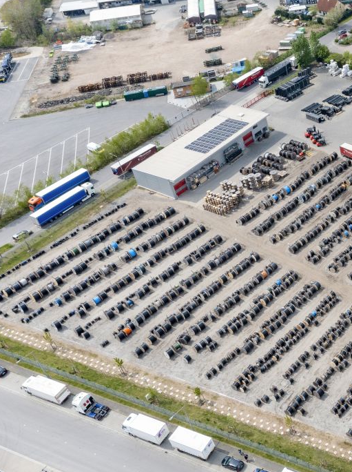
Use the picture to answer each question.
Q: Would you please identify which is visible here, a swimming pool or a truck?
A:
truck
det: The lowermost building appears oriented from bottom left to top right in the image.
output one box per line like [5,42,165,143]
[129,104,273,200]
